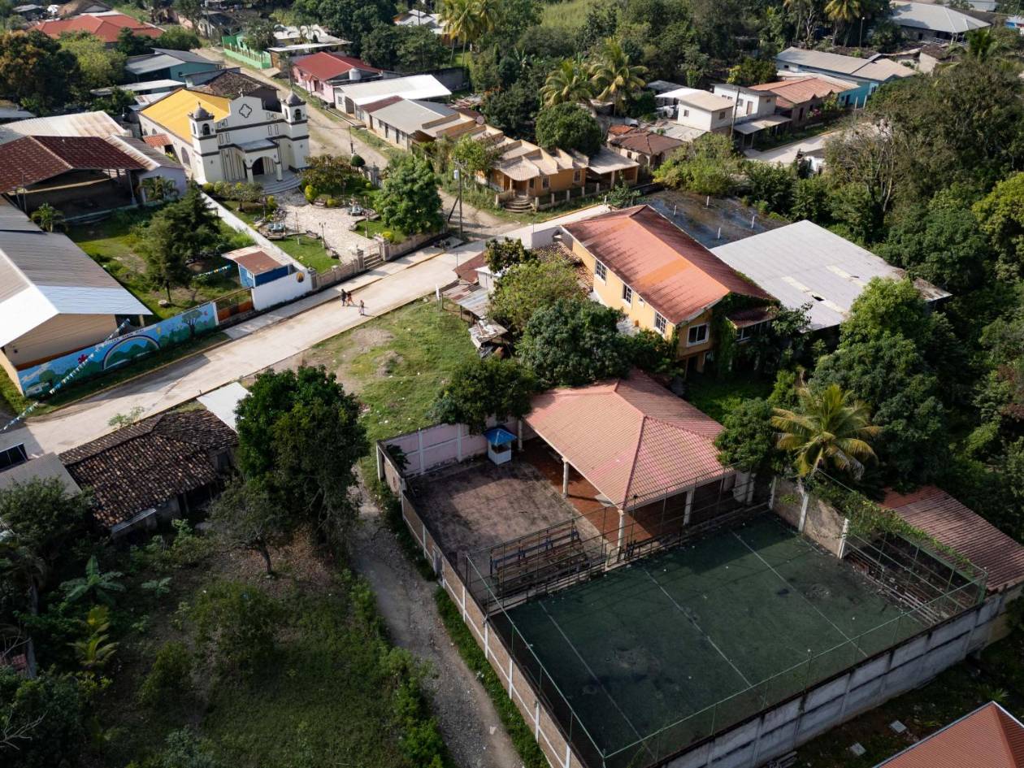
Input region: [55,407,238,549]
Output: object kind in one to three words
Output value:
house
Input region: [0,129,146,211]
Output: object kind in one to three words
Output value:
building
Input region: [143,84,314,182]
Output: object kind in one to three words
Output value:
building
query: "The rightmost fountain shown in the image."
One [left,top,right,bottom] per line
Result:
[339,197,375,217]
